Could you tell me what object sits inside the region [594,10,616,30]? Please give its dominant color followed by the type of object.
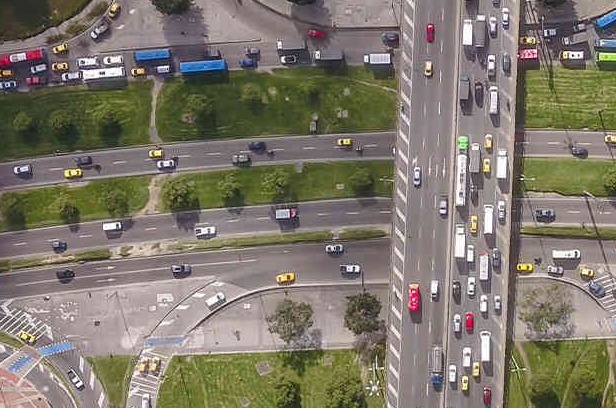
blue bus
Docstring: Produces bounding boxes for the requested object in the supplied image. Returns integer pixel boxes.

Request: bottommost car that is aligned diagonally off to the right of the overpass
[588,279,604,296]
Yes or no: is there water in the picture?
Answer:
No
